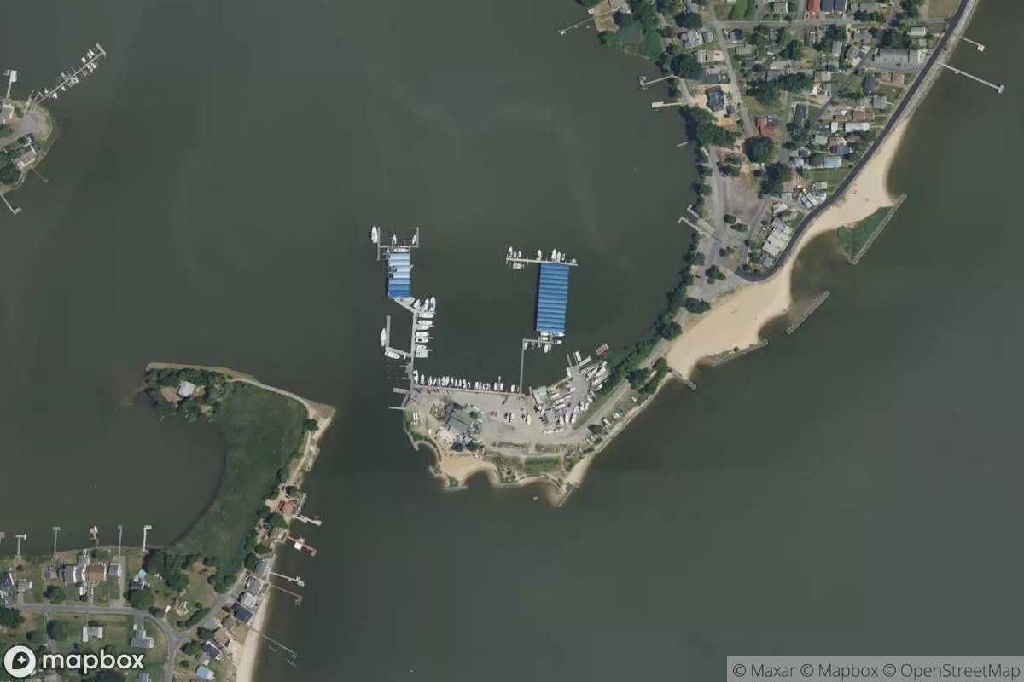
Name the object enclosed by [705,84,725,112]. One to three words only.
house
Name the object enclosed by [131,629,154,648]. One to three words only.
house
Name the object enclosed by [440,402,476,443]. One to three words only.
building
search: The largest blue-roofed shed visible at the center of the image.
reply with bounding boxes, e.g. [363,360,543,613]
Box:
[537,263,571,332]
